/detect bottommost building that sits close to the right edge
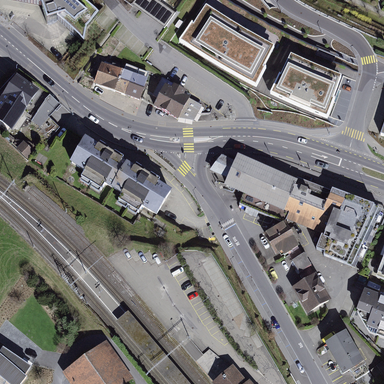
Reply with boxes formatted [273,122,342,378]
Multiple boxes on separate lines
[323,329,370,382]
